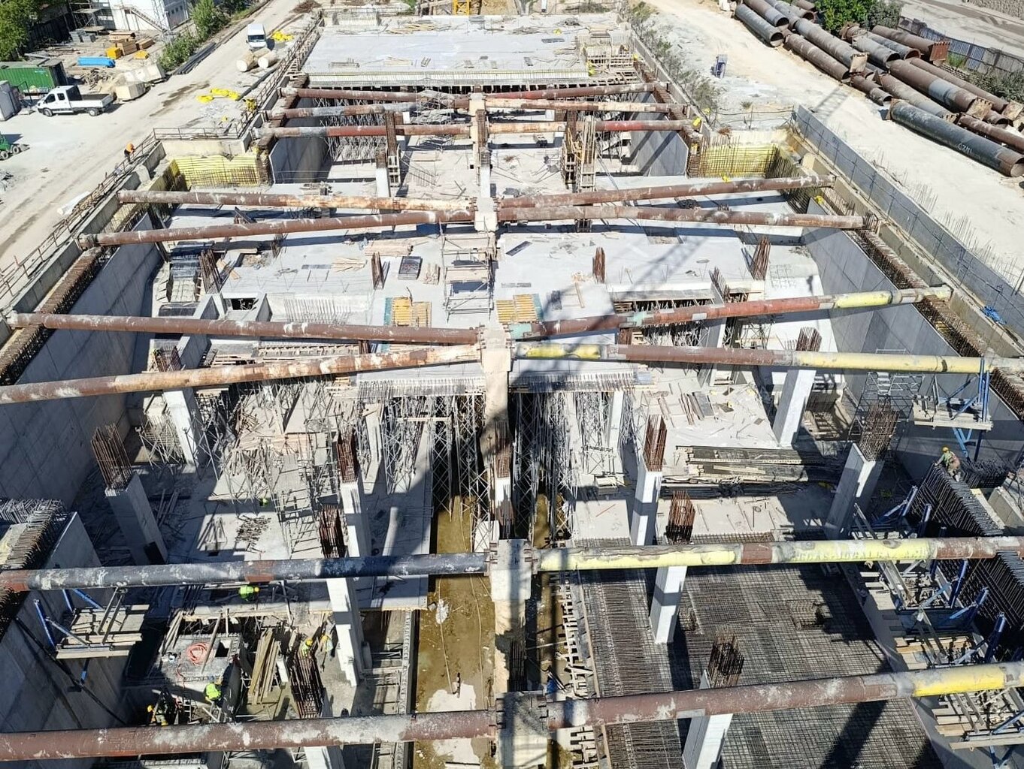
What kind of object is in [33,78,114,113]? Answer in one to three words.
truck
